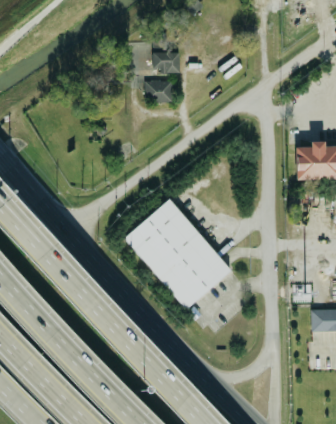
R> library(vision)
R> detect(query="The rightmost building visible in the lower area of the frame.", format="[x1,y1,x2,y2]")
[310,310,336,332]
